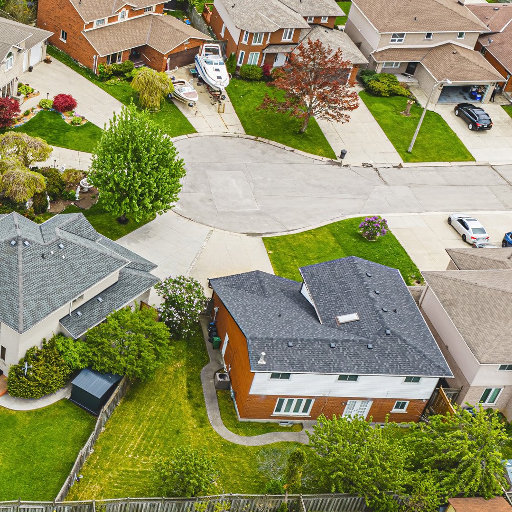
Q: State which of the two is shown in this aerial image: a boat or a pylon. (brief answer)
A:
boat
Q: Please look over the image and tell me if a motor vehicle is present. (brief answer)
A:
Yes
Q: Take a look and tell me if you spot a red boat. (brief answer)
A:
No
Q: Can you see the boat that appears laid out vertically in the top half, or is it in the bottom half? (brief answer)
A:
top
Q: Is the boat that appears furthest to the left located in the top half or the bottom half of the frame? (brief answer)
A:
top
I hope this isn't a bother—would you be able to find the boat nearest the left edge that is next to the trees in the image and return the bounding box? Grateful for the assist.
[169,78,202,110]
